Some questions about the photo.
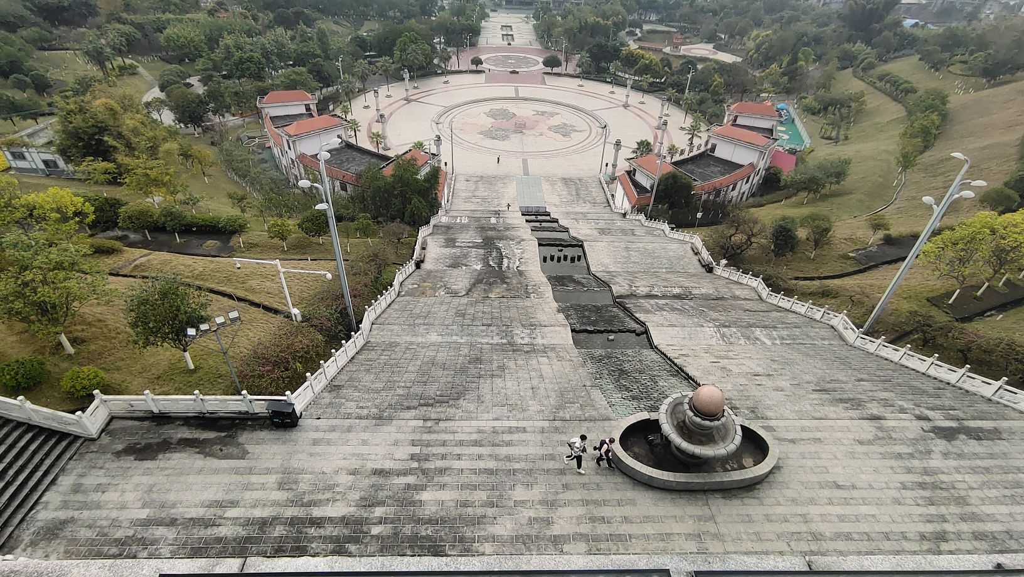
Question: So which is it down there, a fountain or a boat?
fountain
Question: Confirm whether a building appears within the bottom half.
No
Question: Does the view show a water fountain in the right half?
Yes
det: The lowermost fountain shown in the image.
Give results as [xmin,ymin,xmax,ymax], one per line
[611,386,784,491]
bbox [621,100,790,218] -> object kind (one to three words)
building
